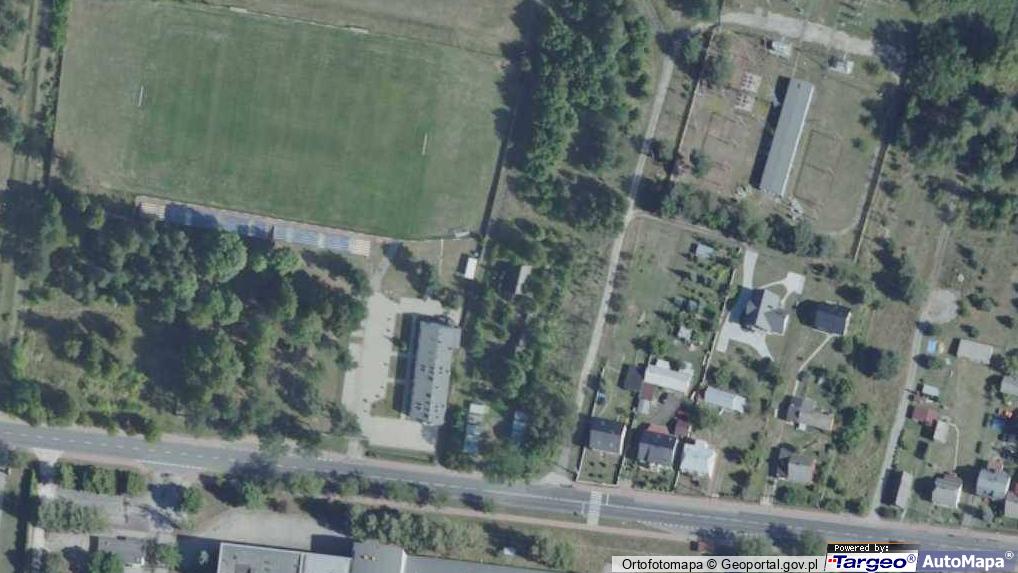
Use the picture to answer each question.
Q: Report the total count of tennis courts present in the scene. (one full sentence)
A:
There are no tennis courts in the image.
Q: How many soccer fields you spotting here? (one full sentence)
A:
In total, 1 soccer field can be seen.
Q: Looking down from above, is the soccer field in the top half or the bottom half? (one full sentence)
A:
It is in the top half that the soccer field appears.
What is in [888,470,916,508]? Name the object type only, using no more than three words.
barn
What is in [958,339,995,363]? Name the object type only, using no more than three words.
shed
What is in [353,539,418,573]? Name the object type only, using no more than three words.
building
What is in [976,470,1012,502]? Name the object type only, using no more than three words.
house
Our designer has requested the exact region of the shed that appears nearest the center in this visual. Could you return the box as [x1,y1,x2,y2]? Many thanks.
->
[506,264,532,296]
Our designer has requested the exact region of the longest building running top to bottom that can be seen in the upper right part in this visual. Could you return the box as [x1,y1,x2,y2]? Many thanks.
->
[761,79,816,199]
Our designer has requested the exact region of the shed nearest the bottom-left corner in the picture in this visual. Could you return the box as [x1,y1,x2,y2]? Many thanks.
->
[27,526,48,550]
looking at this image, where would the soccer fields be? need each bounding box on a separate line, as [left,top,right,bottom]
[125,6,437,235]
